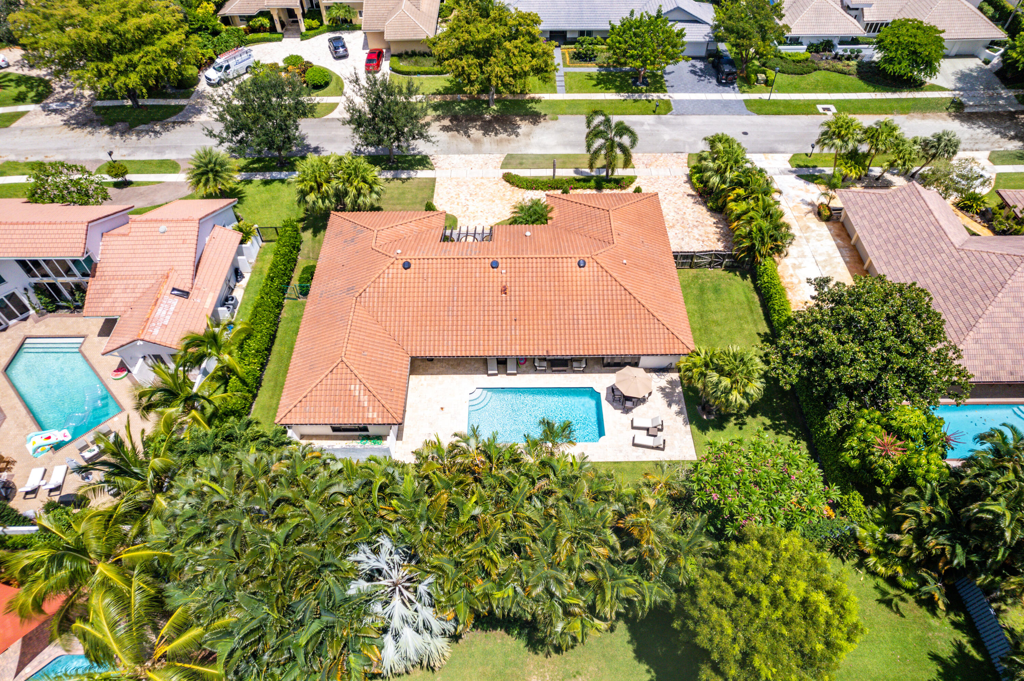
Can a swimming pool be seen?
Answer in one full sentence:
Yes, the frame does contain a swimming pool.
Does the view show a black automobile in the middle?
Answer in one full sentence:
No, no black automobile can be made out in the middle.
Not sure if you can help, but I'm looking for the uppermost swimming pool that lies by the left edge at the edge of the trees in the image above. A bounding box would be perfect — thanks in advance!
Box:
[0,333,125,455]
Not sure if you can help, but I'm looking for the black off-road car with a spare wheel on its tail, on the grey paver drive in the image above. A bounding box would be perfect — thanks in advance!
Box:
[715,52,736,77]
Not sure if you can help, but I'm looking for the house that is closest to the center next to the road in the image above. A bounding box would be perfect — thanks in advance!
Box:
[273,190,694,463]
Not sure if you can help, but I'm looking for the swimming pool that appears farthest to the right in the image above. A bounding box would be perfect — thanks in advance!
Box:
[927,402,1024,462]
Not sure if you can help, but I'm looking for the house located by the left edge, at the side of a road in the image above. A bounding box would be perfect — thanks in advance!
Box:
[0,197,244,392]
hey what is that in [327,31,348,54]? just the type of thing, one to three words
car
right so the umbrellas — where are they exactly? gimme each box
[67,460,93,500]
[615,365,653,400]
